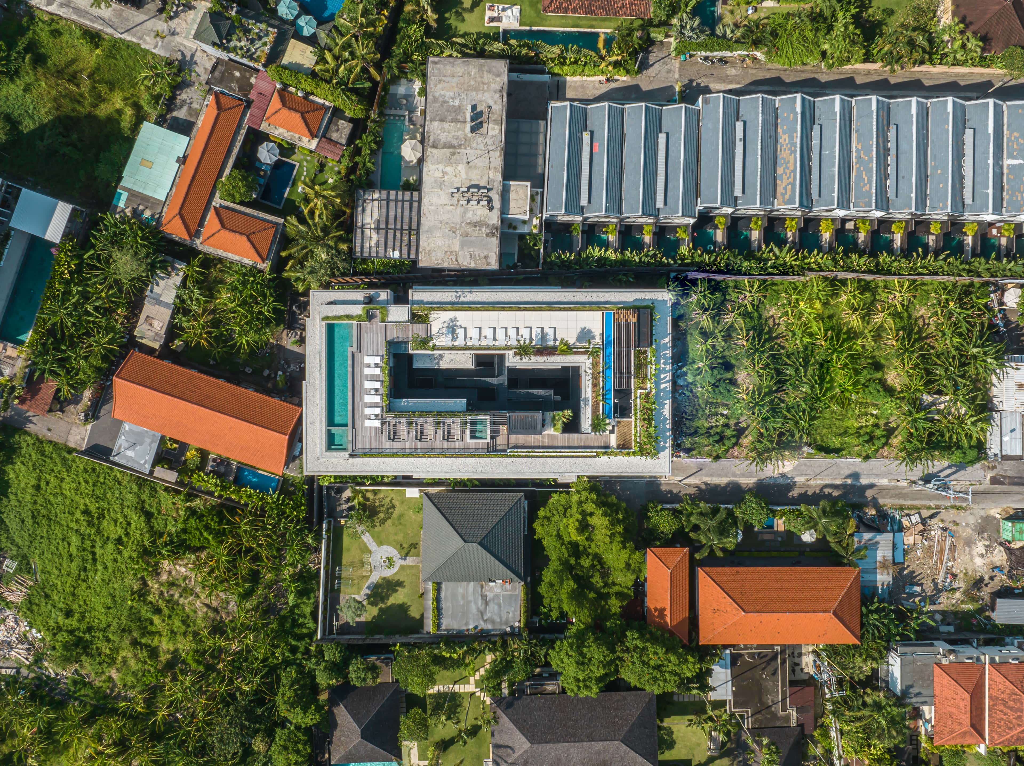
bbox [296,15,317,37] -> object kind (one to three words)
umbrella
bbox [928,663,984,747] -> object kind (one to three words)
house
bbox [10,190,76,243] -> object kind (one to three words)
building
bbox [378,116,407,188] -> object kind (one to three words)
swimming pool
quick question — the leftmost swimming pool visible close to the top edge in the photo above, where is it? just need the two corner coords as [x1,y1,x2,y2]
[294,0,346,24]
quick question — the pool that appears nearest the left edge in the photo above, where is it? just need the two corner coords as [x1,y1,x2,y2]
[0,233,57,347]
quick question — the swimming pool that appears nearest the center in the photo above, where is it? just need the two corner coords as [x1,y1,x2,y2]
[468,417,489,442]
